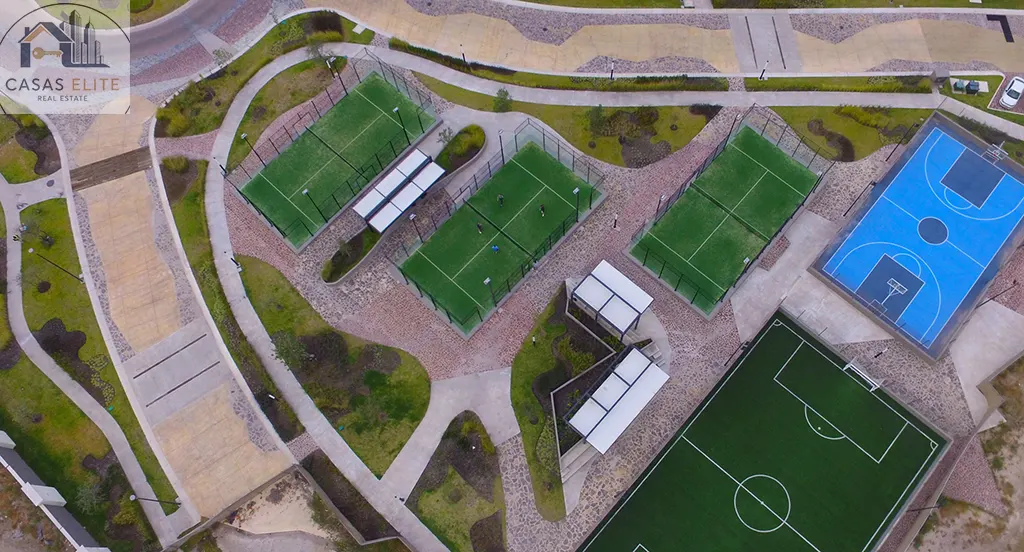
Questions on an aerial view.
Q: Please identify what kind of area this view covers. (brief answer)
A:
sports ground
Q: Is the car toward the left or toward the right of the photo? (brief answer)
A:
right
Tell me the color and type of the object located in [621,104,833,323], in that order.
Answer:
green sports court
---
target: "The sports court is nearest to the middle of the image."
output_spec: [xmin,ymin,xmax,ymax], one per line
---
[389,120,610,342]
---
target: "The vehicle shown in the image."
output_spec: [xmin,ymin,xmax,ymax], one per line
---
[1001,67,1024,106]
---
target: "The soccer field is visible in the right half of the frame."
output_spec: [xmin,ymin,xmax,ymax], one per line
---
[578,302,958,552]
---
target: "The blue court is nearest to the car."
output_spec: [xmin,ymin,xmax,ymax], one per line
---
[807,100,1024,366]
